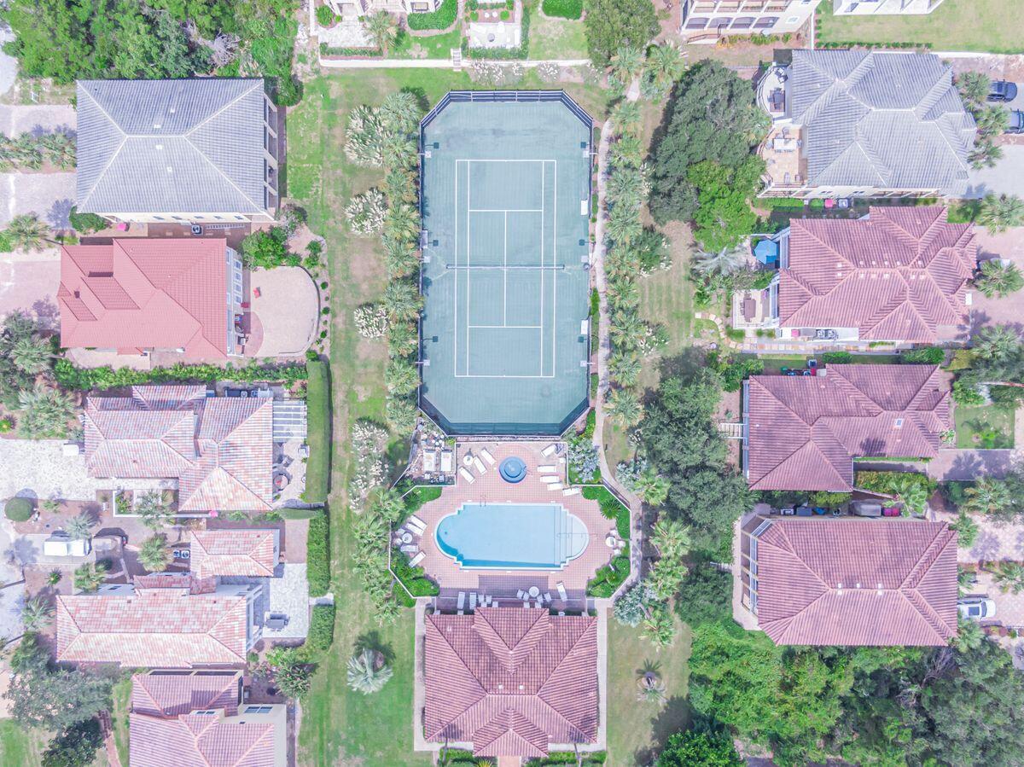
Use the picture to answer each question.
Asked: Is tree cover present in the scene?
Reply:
Yes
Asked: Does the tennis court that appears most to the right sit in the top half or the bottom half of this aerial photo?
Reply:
top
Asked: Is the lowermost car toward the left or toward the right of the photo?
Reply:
right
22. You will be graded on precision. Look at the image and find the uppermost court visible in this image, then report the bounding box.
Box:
[424,102,588,432]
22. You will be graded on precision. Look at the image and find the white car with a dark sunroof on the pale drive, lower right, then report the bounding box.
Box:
[957,598,999,621]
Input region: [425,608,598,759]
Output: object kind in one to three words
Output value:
building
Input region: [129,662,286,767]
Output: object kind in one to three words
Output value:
house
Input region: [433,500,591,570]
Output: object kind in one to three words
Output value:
swimming pool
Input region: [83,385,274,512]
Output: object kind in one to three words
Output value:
house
